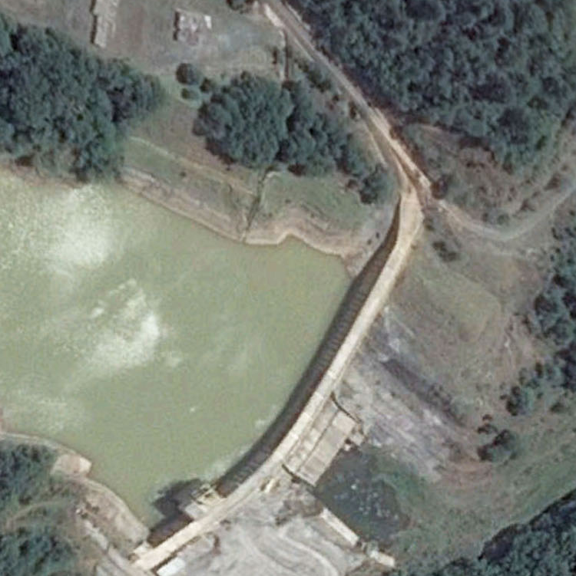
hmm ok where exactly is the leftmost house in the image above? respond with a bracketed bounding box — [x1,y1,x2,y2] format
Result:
[94,0,115,45]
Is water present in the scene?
Yes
